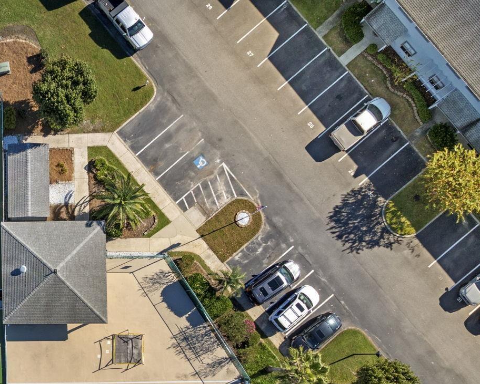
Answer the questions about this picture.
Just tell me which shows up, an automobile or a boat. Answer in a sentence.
Visible in the photo is an automobile.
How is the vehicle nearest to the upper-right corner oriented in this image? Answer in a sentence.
In this picture, the vehicle nearest to the upper-right corner is oriented on a diagonal.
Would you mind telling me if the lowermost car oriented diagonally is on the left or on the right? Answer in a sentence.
The lowermost car oriented diagonally appears in the right half of the scene.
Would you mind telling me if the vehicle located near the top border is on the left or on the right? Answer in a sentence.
You can find the vehicle located near the top border on the left side of the picture.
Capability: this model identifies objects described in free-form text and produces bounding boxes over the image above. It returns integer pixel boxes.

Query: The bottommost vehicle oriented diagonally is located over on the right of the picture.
[289,309,342,353]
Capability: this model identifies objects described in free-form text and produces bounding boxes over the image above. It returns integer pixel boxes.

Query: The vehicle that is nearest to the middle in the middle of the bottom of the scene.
[244,260,297,305]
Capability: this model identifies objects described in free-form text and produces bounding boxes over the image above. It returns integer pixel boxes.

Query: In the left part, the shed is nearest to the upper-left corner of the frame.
[7,143,48,219]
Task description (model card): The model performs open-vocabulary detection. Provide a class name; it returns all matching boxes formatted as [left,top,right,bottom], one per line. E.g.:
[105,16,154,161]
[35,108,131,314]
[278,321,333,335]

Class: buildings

[1,220,107,324]
[7,143,48,219]
[356,0,480,162]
